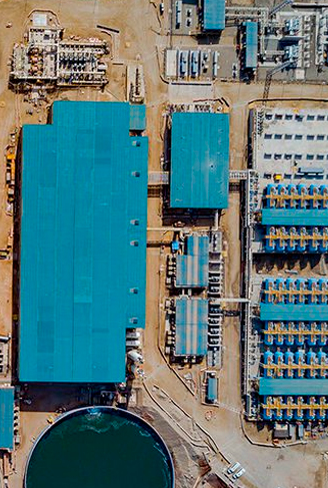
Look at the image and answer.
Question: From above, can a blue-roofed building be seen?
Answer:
Yes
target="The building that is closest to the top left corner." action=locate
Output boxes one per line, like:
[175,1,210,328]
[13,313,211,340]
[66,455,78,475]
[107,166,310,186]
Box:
[10,9,108,91]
